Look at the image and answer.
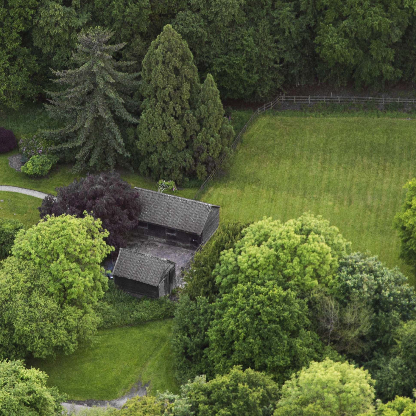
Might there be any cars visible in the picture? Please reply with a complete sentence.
No, there isn't any car down there.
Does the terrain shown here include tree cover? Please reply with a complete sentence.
Yes, tree cover can be seen from above here.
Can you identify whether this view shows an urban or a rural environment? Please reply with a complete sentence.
The area is rural.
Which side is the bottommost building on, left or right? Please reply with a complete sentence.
The bottommost building is on the left side of the image.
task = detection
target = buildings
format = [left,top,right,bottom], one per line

[112,252,176,296]
[129,187,220,243]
